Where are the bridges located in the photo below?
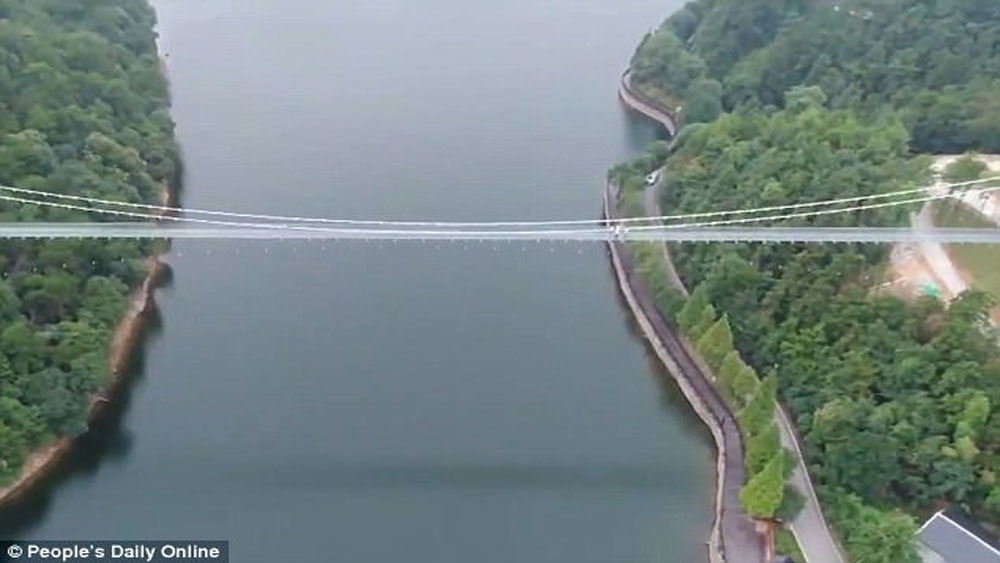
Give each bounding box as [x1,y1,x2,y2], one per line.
[0,178,1000,299]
